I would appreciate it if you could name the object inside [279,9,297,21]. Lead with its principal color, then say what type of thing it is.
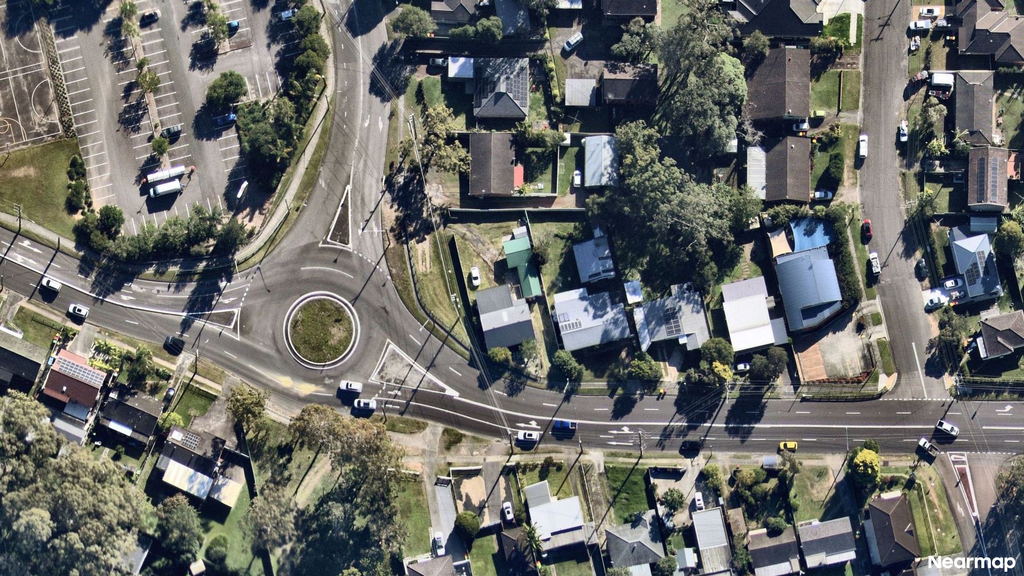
blue vehicle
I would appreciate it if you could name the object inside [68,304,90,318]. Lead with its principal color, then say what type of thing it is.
white car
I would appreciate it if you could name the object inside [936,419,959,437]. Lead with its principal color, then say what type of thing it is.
white vehicle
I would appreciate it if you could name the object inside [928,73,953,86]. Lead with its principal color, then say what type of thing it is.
white vehicle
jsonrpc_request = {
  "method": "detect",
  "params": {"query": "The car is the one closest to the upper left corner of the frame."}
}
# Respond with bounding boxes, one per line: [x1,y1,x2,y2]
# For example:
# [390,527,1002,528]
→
[140,12,162,24]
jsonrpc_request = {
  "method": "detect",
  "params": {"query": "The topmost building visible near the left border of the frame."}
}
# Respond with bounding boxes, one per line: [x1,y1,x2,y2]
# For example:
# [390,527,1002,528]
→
[0,322,48,386]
